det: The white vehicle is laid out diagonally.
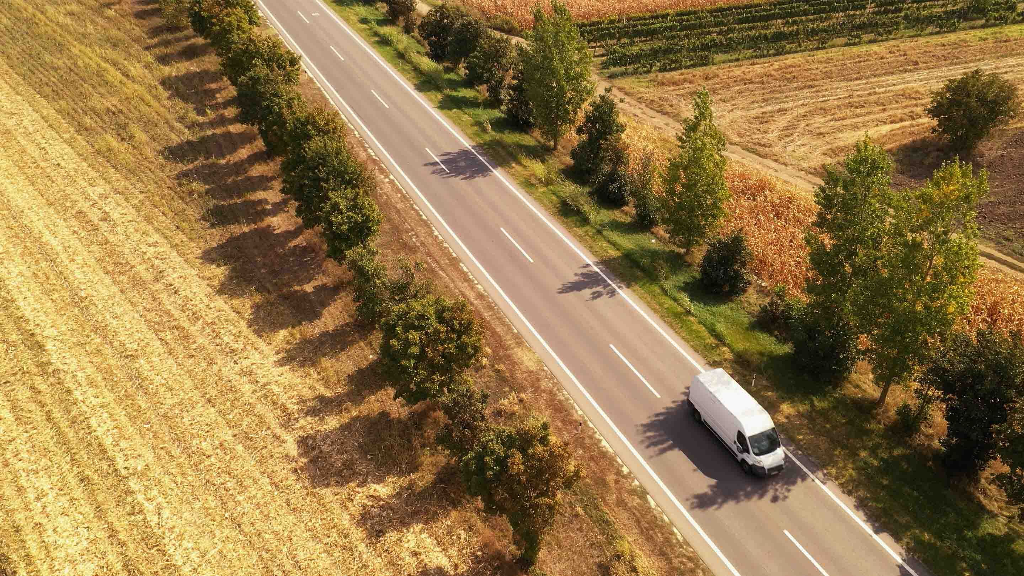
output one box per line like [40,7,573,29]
[685,362,792,480]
